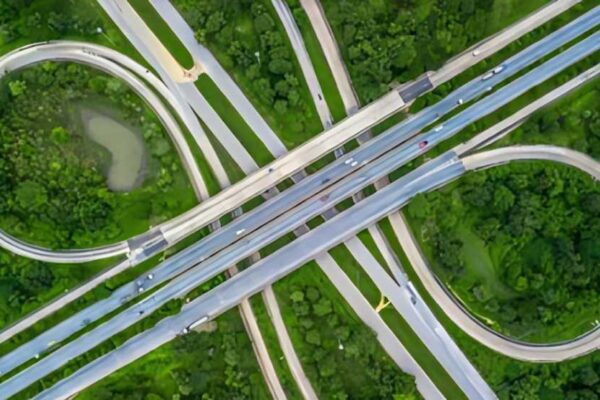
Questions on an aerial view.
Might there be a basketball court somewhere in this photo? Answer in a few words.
No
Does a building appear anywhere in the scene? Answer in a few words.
No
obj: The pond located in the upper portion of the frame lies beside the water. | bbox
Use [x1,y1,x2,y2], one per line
[88,117,142,190]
